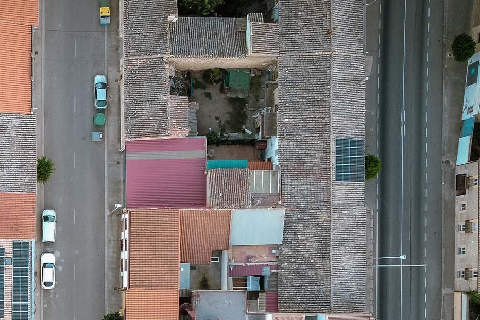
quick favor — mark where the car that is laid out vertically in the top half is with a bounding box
[92,75,108,110]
